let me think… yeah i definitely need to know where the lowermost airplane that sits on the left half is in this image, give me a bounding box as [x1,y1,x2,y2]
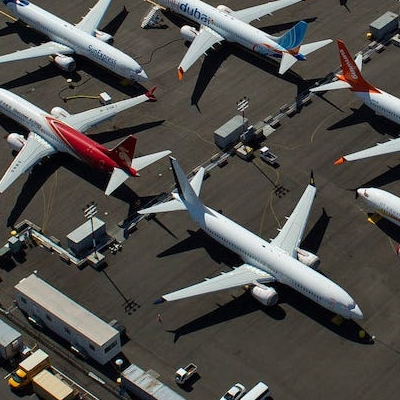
[0,86,172,194]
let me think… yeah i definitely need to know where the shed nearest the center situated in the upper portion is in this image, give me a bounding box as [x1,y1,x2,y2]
[212,114,248,149]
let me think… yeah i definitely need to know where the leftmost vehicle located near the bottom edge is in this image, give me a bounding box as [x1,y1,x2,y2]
[7,349,46,392]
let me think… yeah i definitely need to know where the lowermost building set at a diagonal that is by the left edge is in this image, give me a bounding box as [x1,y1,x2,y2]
[15,274,125,358]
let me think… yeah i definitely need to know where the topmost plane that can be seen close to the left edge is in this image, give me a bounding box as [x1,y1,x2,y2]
[0,0,145,79]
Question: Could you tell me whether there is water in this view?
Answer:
No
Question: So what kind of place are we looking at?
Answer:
airport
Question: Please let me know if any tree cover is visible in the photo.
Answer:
No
